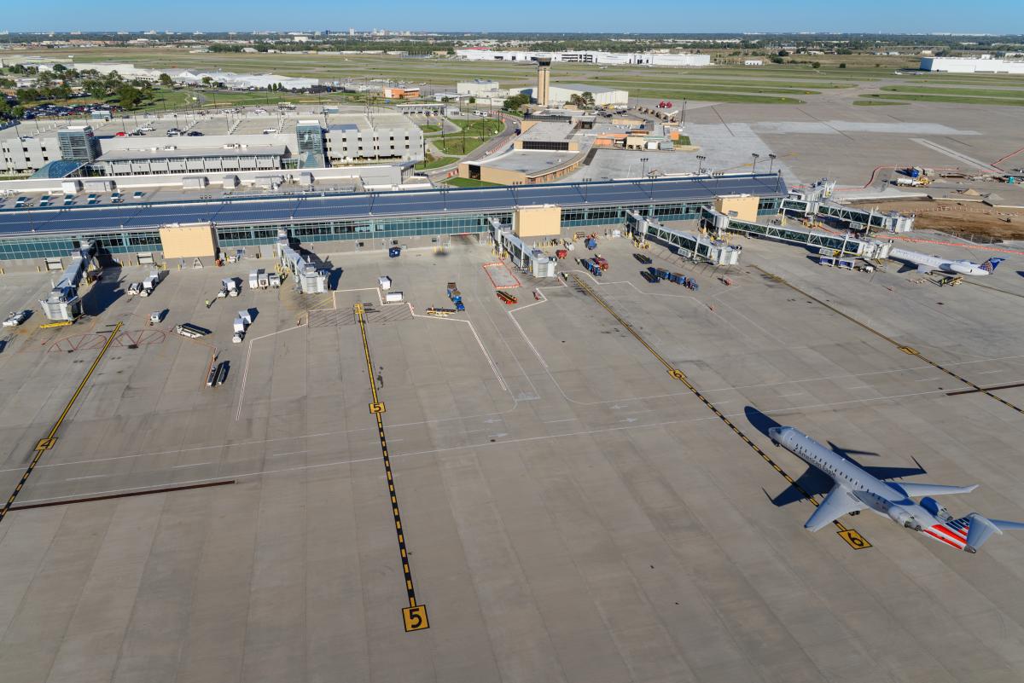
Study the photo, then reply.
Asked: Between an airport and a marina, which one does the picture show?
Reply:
airport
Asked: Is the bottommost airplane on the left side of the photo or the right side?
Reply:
right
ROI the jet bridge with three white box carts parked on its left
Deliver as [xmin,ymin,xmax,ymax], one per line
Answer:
[273,229,322,290]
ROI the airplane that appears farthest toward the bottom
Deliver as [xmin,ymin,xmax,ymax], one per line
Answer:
[770,426,1024,560]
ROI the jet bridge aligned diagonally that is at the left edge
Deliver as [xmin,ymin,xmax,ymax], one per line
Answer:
[34,239,116,319]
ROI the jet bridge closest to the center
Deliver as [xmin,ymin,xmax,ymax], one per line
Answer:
[480,218,568,274]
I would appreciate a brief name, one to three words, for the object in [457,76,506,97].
building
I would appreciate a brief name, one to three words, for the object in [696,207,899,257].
jet bridge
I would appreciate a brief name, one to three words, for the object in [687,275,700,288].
vehicle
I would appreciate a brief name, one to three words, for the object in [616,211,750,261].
jet bridge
